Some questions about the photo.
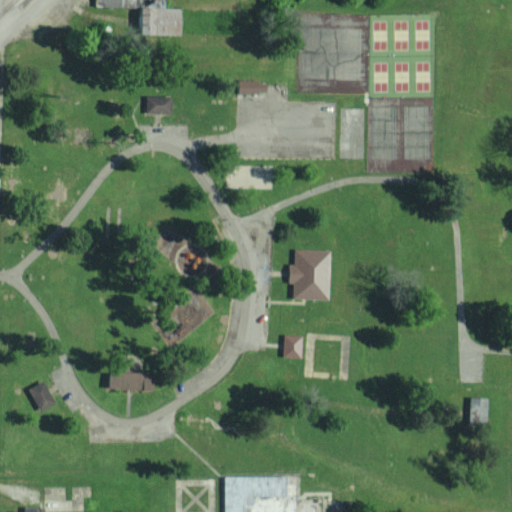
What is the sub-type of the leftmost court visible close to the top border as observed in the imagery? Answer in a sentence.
From above, the leftmost court visible close to the top border can be identified as a basketball court.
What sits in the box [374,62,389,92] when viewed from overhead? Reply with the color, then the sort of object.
white sports court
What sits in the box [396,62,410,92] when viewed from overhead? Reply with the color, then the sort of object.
white sports court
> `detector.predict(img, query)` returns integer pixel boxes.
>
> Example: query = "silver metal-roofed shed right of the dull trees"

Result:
[470,398,490,424]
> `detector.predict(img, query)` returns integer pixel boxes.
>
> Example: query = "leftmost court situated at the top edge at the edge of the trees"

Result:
[297,14,369,94]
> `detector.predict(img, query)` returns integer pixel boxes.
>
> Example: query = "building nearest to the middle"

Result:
[288,250,332,302]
